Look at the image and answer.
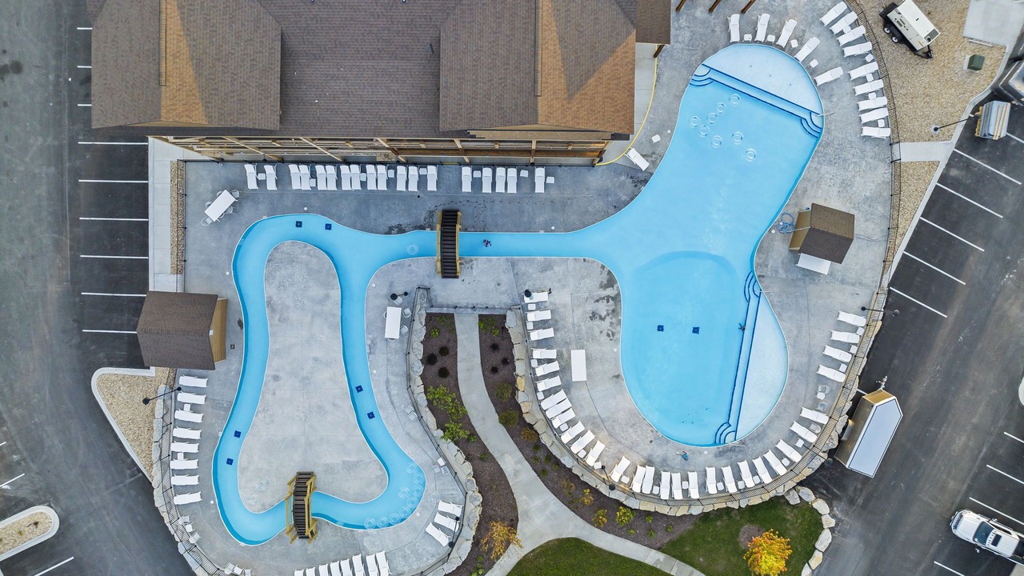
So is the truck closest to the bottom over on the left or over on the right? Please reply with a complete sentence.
The truck closest to the bottom is on the right side of the image.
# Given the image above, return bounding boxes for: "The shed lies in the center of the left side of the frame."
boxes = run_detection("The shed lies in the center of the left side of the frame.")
[135,291,230,370]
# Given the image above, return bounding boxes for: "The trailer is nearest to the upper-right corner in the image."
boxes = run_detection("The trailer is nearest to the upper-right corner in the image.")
[987,40,1024,109]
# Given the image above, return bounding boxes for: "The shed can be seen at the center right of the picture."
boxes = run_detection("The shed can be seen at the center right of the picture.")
[787,203,855,263]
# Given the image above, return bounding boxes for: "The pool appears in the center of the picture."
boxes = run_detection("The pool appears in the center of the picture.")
[211,43,835,546]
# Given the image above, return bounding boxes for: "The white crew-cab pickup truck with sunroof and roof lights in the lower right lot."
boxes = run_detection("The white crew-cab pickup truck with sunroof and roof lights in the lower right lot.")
[943,506,1024,565]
